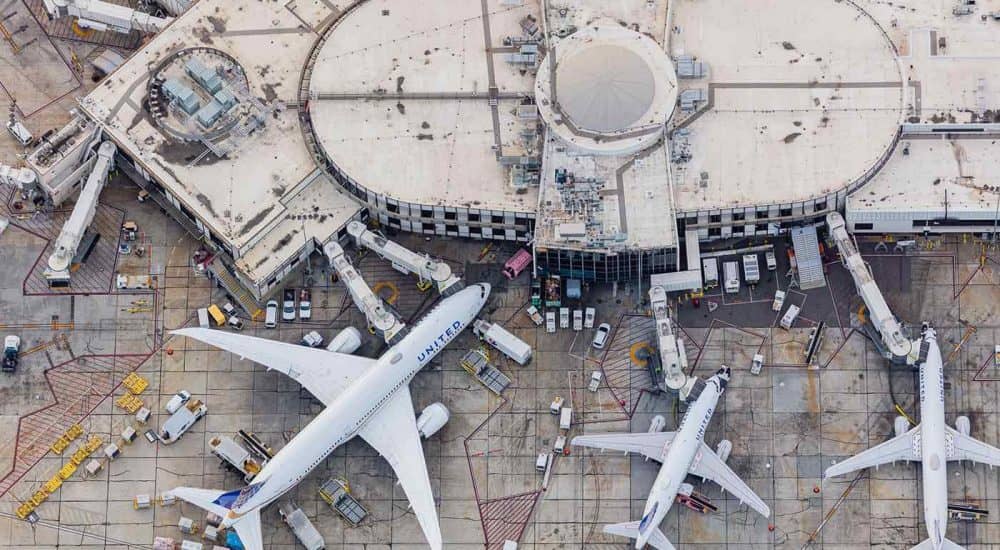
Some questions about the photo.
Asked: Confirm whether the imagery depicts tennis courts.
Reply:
No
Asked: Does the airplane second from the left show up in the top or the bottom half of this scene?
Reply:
bottom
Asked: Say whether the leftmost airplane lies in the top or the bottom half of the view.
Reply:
bottom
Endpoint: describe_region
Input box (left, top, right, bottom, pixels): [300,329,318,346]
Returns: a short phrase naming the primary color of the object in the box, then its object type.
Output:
white work vehicle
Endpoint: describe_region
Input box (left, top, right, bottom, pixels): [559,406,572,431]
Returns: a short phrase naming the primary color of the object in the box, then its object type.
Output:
white vehicle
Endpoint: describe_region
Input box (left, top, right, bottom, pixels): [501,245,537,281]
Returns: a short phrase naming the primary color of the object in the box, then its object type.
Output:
pink truck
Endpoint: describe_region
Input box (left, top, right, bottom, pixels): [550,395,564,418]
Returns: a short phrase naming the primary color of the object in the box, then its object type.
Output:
white vehicle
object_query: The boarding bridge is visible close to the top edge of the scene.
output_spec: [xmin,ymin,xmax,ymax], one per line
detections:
[39,0,177,40]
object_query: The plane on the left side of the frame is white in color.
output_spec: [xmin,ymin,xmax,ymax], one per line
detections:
[169,284,491,550]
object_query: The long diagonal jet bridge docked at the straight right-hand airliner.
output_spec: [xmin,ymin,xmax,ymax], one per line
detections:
[824,213,932,371]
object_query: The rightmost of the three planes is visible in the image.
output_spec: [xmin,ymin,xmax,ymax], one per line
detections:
[825,327,1000,550]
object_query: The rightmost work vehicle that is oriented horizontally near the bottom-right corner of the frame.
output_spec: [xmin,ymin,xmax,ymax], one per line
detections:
[947,503,990,520]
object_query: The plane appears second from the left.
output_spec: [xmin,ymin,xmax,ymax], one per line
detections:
[568,367,771,550]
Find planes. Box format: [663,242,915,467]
[825,327,1000,550]
[568,367,771,550]
[169,284,491,550]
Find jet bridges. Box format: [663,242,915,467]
[39,0,177,40]
[347,219,467,300]
[46,139,119,297]
[646,271,708,411]
[322,240,418,342]
[824,213,932,371]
